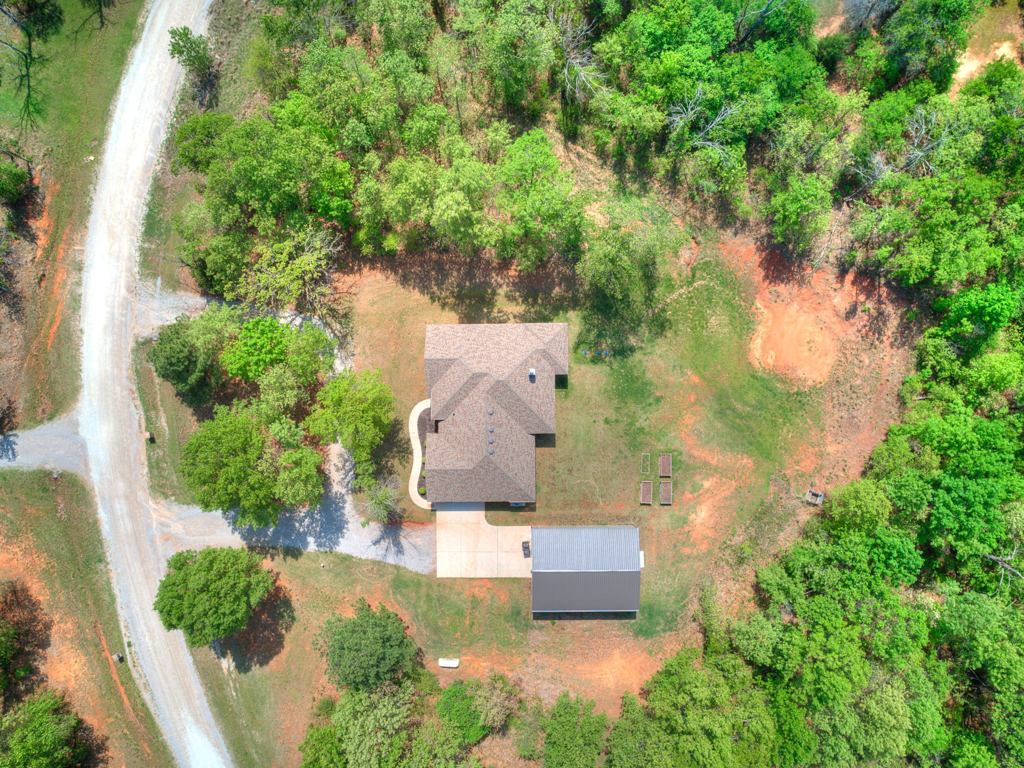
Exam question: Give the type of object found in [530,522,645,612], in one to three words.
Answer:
barn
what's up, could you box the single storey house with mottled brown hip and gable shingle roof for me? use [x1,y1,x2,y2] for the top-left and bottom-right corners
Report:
[423,324,569,503]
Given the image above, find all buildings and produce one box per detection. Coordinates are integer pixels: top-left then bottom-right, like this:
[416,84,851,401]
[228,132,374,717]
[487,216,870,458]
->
[423,324,569,503]
[530,522,645,612]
